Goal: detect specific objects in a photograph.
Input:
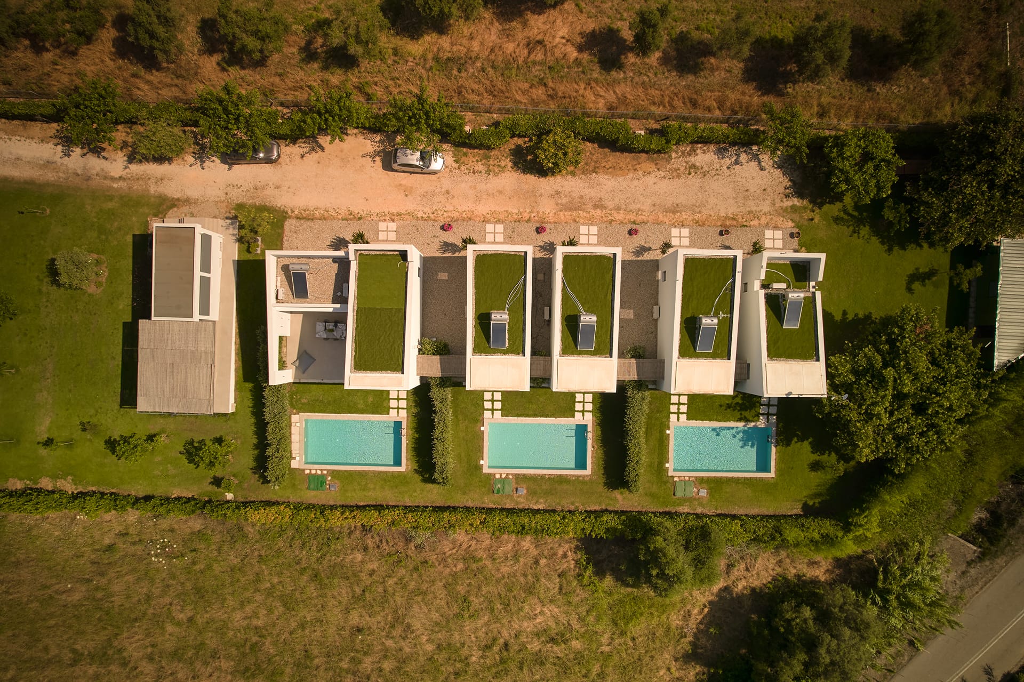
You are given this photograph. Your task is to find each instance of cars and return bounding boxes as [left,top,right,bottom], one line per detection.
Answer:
[391,148,445,175]
[225,137,282,166]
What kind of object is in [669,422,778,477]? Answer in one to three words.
swimming pool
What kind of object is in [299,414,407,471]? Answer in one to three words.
swimming pool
